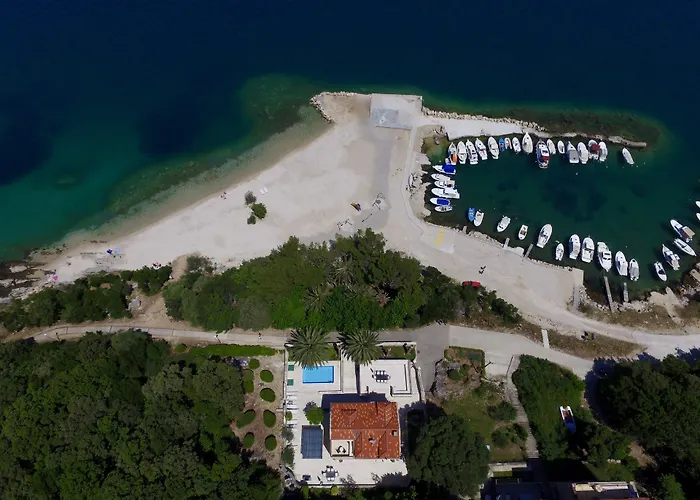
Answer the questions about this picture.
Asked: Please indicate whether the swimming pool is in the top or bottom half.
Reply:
bottom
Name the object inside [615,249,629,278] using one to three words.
boat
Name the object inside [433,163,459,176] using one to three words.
boat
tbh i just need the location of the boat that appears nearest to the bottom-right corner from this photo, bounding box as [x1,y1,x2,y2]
[556,404,575,434]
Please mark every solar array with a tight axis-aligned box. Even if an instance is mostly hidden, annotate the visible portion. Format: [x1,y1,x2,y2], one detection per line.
[300,424,323,458]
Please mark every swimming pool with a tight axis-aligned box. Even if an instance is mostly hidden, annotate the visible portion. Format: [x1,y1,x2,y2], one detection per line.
[301,365,336,385]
